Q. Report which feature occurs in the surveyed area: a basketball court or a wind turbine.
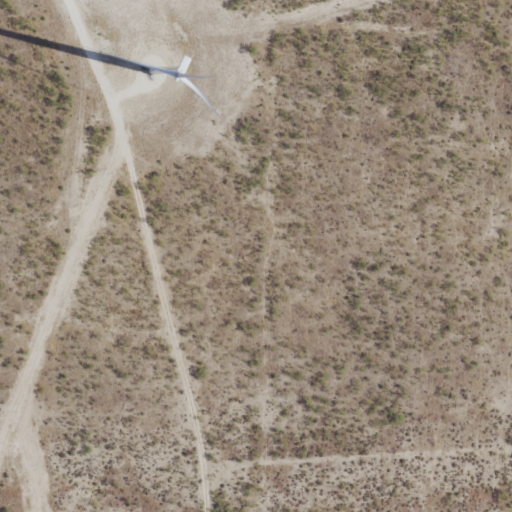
wind turbine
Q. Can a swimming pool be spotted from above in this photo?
No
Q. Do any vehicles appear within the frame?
No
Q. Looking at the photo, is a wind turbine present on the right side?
No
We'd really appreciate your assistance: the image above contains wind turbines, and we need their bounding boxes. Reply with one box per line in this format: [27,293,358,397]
[90,53,222,118]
